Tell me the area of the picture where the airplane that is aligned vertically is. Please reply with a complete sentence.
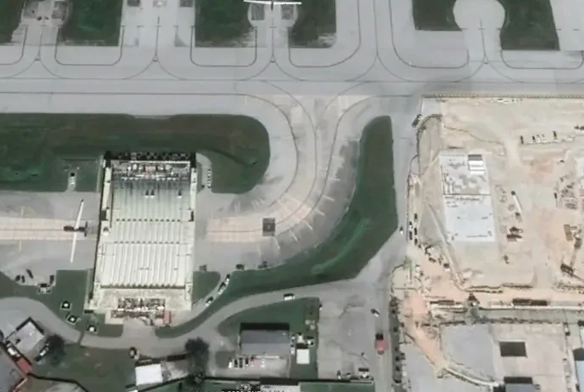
Look in the left portion of the view to spot the airplane that is aligned vertically.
